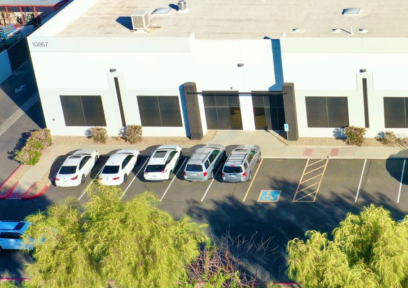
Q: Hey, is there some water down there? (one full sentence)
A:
No, there is no water in the image.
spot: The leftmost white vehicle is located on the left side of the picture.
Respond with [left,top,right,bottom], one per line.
[53,144,105,184]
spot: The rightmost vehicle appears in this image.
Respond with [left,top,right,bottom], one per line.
[214,141,257,181]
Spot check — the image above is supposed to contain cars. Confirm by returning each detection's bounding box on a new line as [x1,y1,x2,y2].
[53,144,105,184]
[135,140,182,180]
[93,145,143,184]
[214,141,257,181]
[0,212,53,253]
[175,140,220,181]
